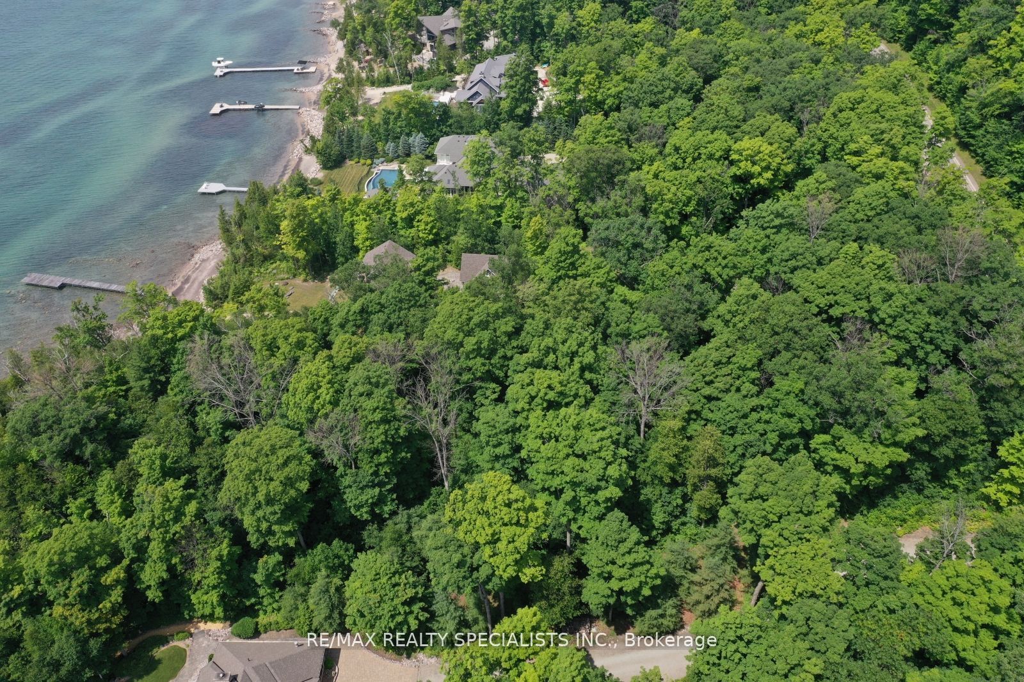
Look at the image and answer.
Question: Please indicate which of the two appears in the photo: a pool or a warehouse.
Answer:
pool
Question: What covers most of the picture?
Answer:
trees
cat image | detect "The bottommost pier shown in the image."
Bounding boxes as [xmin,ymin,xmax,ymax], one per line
[21,273,149,297]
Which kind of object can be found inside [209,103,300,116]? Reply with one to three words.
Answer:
pier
